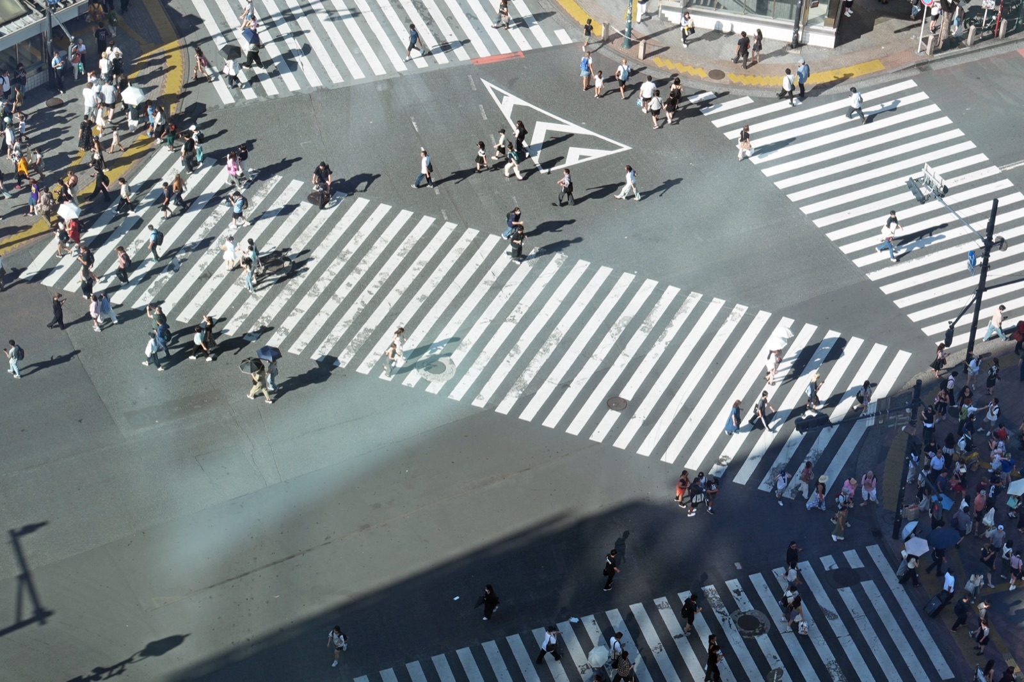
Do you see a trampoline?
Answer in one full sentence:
No, the picture doesn't show any trampoline.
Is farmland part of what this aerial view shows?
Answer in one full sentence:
No, no farmland is visible.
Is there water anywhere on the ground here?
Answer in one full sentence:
No, there's no water in this view.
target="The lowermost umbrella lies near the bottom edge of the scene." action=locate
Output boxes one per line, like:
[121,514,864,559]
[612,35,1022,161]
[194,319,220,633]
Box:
[587,652,613,671]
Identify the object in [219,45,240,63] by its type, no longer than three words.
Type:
umbrella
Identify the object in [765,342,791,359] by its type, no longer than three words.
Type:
umbrella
